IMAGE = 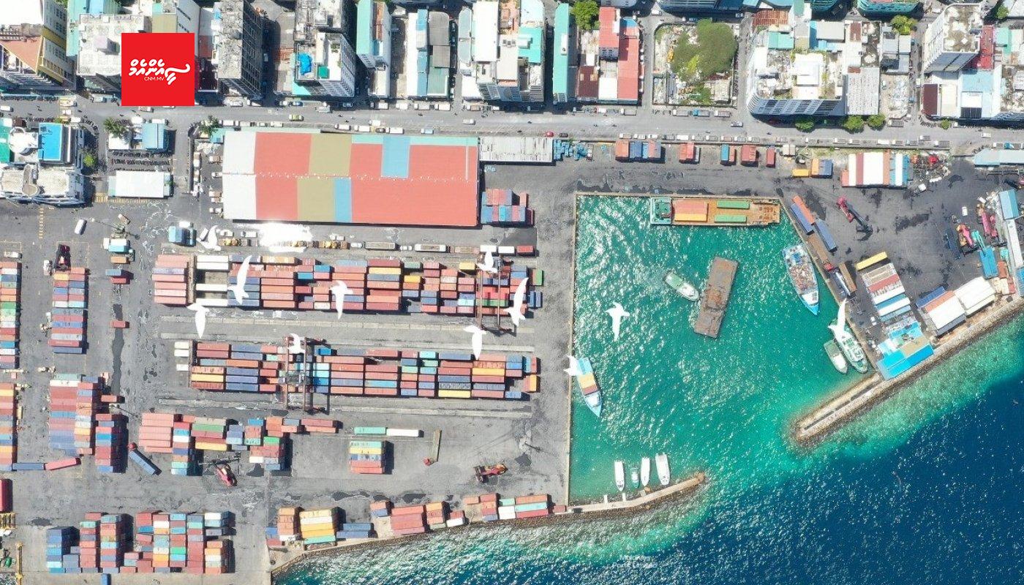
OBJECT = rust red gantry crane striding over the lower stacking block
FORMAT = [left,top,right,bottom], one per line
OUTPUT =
[286,337,322,413]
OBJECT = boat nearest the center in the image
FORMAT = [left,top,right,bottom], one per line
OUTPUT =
[577,356,601,418]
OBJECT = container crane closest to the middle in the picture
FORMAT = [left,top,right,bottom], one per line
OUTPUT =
[480,246,508,338]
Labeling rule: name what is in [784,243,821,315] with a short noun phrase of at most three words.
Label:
boat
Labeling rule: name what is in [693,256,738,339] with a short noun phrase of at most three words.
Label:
ship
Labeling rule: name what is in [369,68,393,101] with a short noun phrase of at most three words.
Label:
house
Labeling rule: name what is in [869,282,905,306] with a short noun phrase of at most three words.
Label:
shed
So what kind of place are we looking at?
port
